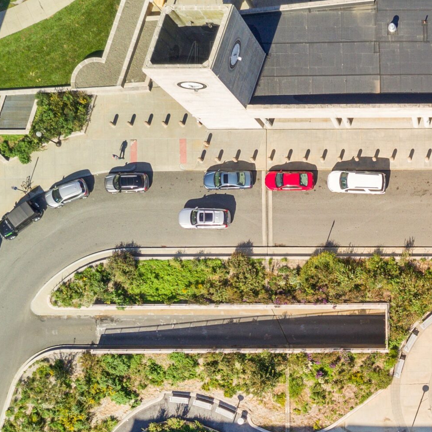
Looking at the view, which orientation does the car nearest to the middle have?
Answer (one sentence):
The car nearest to the middle runs from left to right in the image.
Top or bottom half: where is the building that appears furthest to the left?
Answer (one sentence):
Seen from above, the building that appears furthest to the left lies in the top half of the view.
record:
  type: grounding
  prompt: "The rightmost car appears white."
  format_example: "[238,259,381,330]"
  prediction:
[328,169,386,195]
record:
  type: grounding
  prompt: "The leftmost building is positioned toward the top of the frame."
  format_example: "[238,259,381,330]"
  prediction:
[143,3,265,129]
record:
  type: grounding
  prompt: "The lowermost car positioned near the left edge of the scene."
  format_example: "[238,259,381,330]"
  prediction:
[0,193,45,233]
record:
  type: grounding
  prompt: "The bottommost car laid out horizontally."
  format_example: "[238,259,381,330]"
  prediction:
[179,206,231,230]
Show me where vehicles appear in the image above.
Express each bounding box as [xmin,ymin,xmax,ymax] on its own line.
[265,169,314,191]
[203,168,253,191]
[44,177,91,209]
[328,169,386,195]
[104,170,149,193]
[179,206,231,230]
[0,193,45,233]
